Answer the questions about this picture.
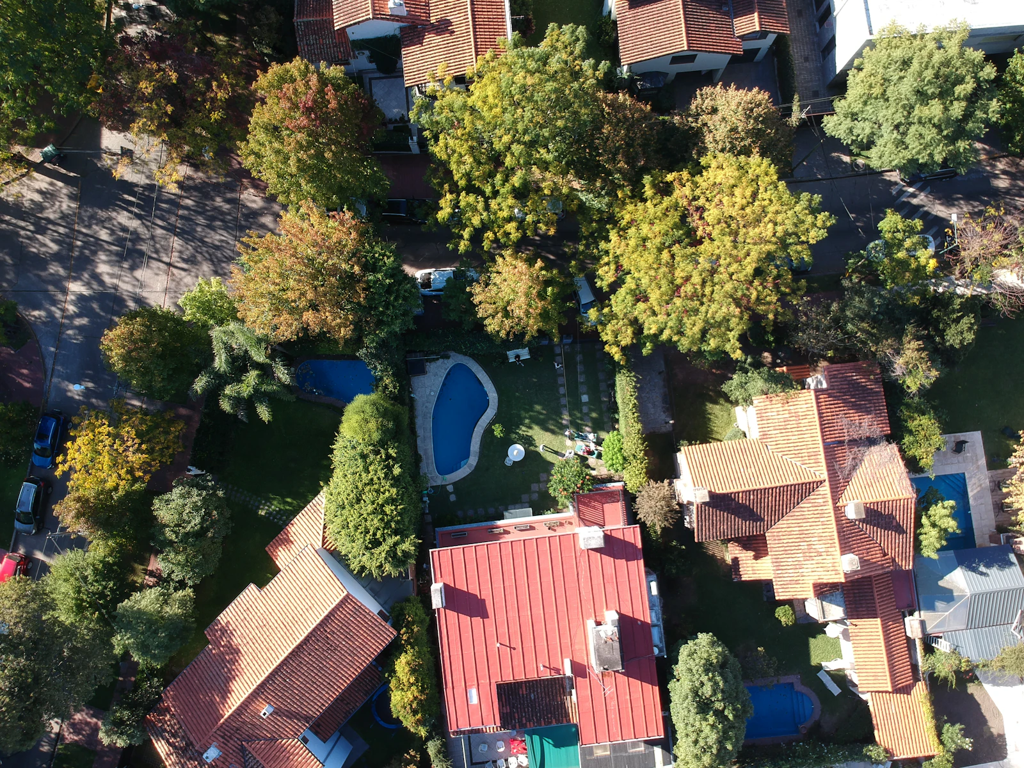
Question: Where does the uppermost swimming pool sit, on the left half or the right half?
left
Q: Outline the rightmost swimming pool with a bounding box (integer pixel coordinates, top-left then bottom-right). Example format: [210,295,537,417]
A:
[900,431,994,545]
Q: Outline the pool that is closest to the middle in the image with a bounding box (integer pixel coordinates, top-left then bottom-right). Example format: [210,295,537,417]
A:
[415,352,498,484]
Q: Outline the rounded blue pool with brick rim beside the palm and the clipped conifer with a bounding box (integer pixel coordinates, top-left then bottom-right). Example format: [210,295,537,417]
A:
[288,352,384,409]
